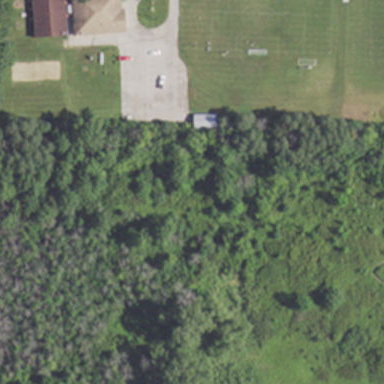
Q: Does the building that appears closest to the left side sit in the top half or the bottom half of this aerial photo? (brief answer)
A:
top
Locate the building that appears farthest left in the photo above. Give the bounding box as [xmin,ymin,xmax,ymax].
[32,0,68,36]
